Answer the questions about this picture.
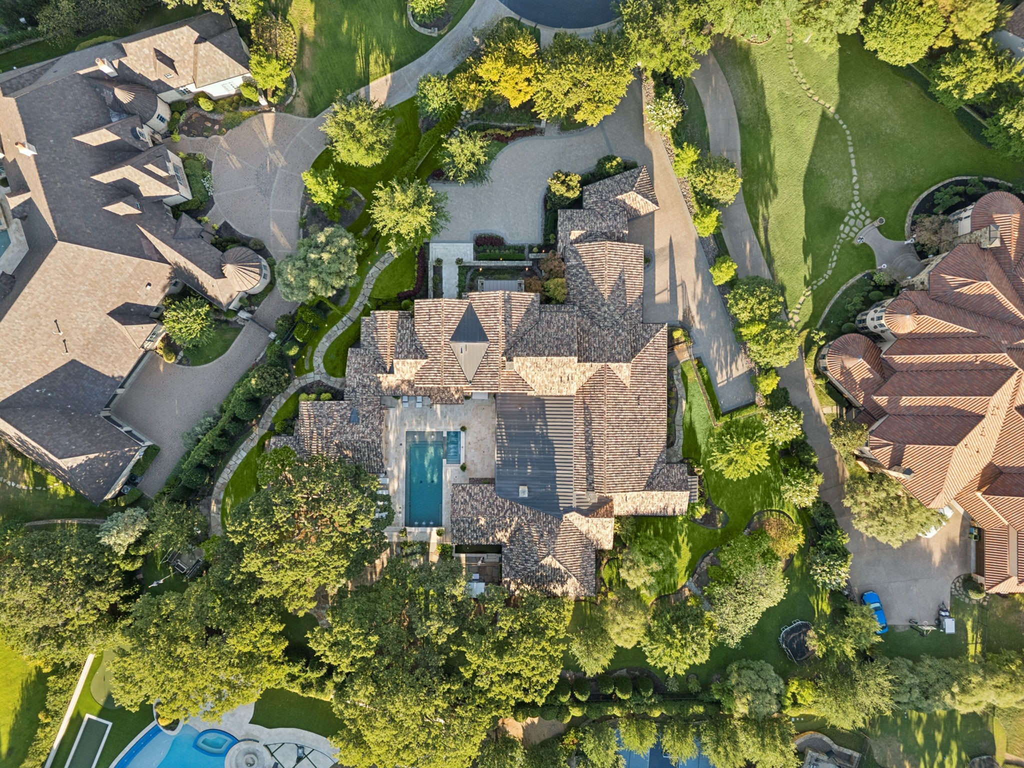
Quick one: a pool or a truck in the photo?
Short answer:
pool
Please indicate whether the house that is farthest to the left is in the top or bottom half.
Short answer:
top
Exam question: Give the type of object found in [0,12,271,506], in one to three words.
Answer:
house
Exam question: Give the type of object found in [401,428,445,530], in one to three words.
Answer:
swimming pool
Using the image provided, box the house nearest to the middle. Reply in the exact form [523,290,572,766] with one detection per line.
[270,164,699,597]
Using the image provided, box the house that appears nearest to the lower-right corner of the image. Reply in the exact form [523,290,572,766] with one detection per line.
[816,191,1024,594]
